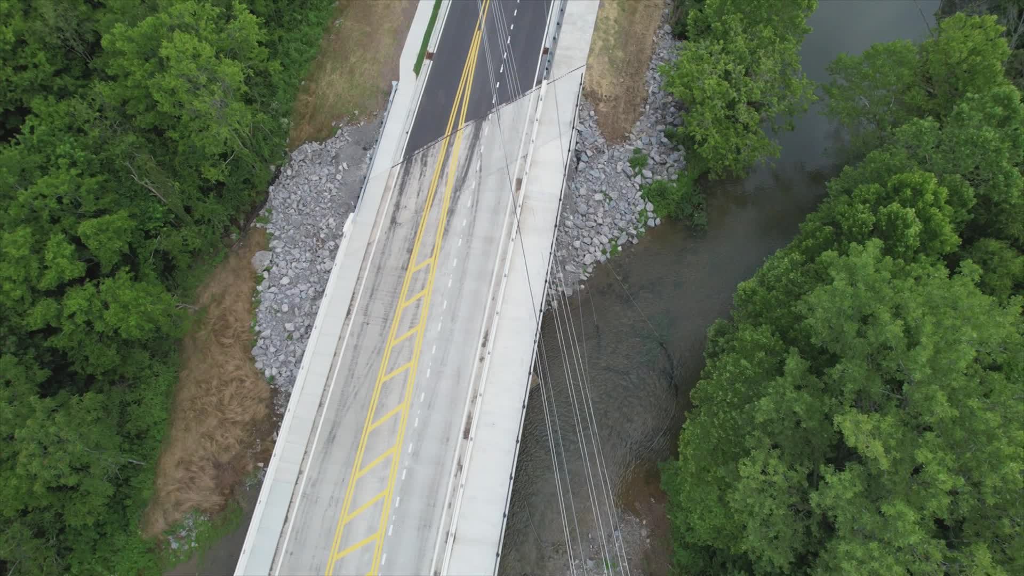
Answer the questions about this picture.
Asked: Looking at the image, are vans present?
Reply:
No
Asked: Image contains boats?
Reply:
No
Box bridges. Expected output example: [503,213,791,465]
[234,65,586,576]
